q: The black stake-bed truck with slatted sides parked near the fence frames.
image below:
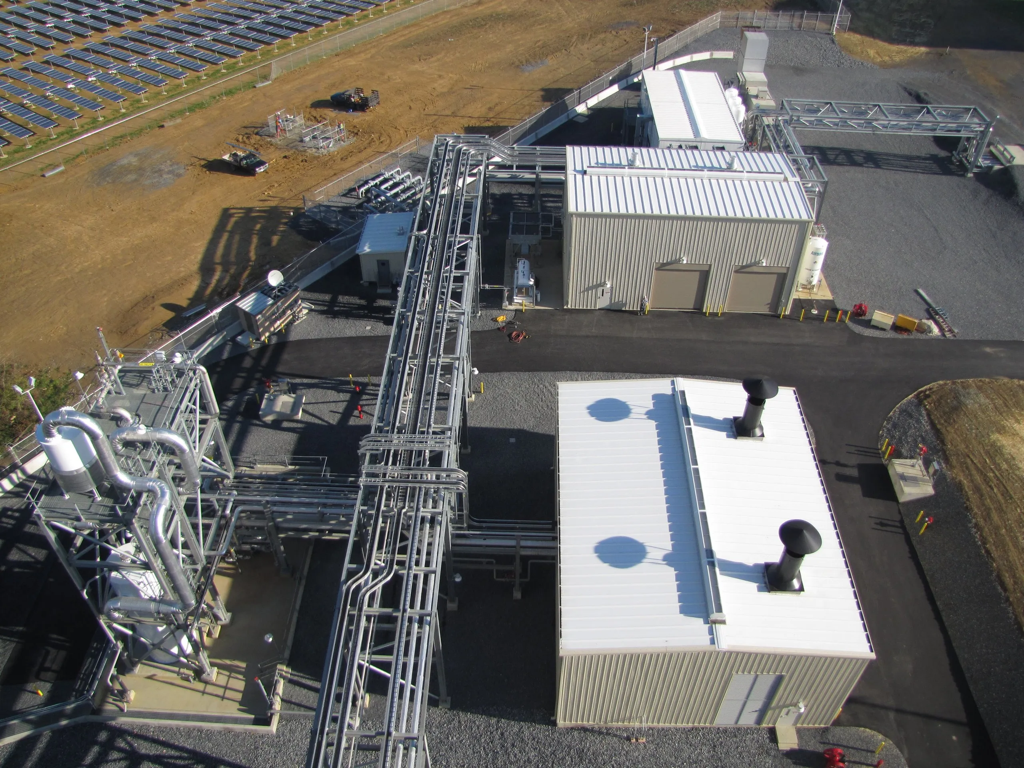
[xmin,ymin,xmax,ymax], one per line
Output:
[327,81,377,111]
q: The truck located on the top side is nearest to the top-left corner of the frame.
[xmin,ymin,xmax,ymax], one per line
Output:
[217,145,270,179]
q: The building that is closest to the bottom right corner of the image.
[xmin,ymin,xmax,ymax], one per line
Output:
[547,377,880,756]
